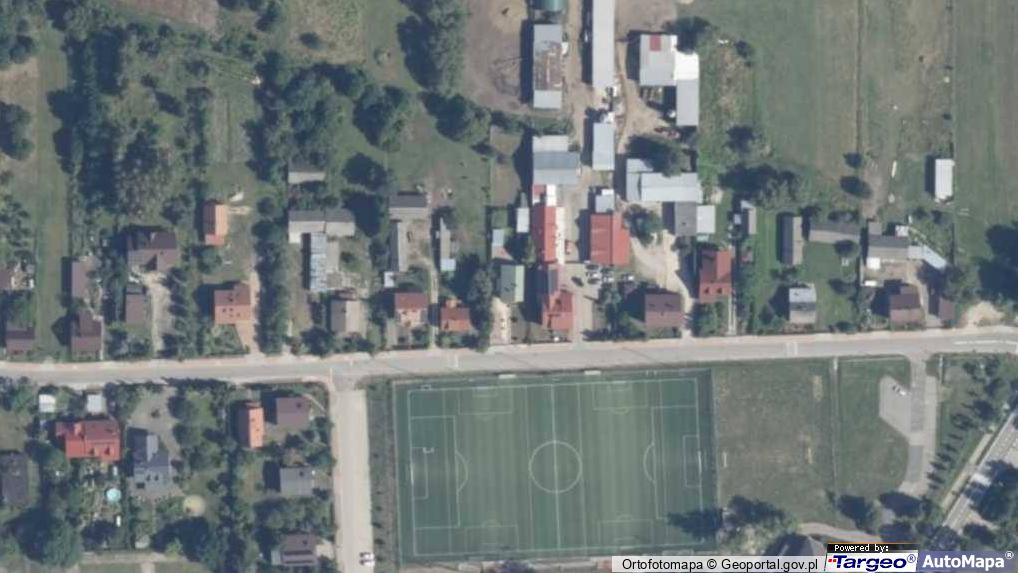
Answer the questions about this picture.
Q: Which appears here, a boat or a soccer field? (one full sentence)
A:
Of the two, only a soccer field appears.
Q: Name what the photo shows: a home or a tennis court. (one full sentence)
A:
This aerial view contains a home.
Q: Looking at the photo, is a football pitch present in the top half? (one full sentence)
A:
No, no football pitch can be made out in the top half.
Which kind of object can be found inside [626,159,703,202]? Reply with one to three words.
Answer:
barn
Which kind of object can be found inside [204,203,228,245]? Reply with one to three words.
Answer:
house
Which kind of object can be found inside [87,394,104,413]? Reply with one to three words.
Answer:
shed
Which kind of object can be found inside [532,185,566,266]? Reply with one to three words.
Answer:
building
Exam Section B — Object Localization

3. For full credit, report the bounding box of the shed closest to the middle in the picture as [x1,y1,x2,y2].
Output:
[500,265,525,302]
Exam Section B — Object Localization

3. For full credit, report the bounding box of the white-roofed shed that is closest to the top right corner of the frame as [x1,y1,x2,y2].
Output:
[935,159,953,199]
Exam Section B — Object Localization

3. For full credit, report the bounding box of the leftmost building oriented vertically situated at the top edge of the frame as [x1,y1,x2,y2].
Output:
[534,24,562,108]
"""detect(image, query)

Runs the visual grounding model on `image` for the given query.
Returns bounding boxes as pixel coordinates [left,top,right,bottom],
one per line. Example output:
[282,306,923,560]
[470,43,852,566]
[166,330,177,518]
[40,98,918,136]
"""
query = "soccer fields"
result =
[393,370,717,562]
